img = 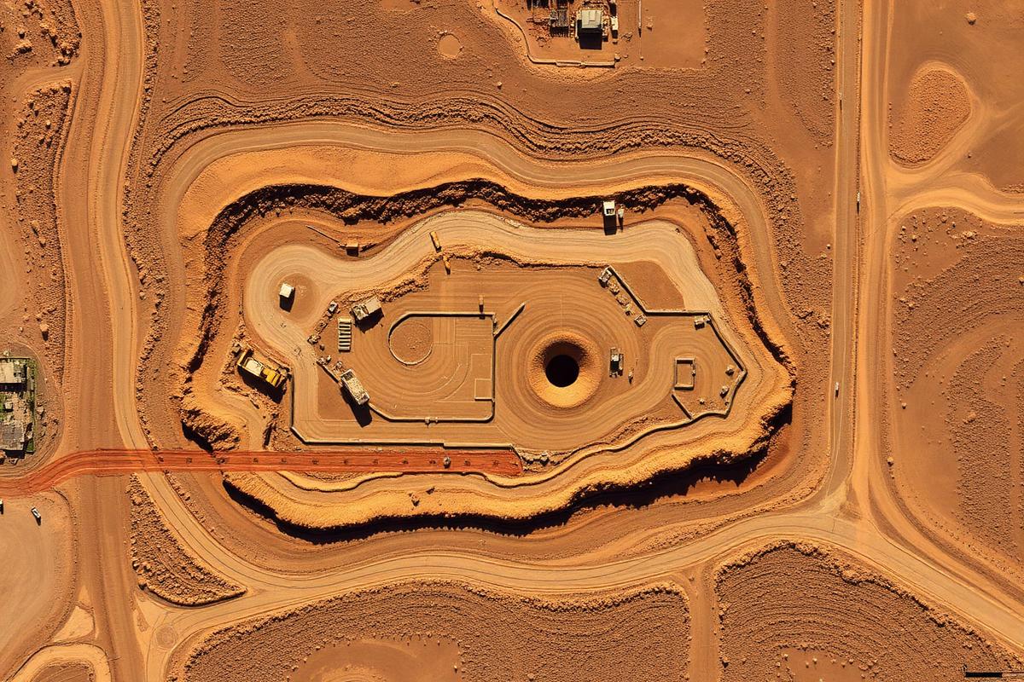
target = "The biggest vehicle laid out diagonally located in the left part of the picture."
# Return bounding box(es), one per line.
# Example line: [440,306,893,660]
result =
[231,347,287,391]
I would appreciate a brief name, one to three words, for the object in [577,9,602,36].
shed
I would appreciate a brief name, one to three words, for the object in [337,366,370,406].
truck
